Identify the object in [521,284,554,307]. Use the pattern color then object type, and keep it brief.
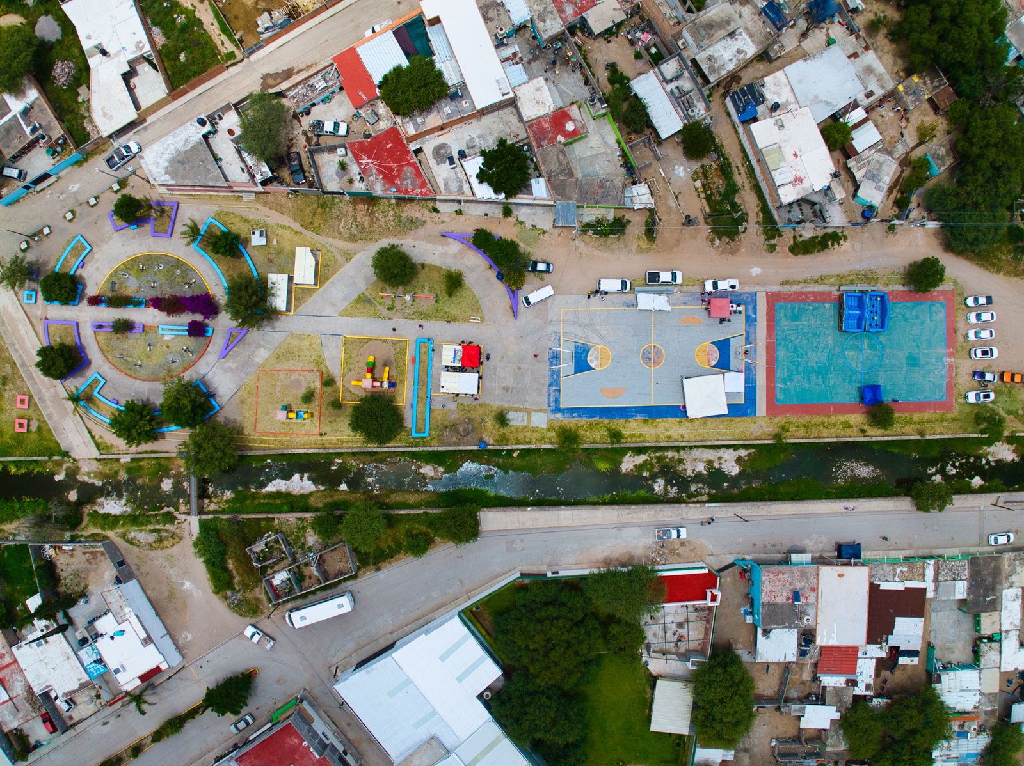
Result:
white vehicle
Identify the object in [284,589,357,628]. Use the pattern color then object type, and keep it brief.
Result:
white bus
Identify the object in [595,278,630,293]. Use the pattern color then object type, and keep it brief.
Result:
white vehicle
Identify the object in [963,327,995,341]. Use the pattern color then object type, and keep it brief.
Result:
white car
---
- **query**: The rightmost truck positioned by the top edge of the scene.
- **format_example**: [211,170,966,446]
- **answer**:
[363,15,394,37]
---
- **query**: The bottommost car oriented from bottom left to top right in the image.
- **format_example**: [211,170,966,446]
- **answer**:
[229,710,258,734]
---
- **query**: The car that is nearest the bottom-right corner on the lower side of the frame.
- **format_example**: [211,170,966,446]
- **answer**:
[985,531,1014,547]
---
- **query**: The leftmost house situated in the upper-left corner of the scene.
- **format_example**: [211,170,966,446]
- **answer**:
[0,76,71,166]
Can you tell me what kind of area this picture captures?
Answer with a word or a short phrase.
residential area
